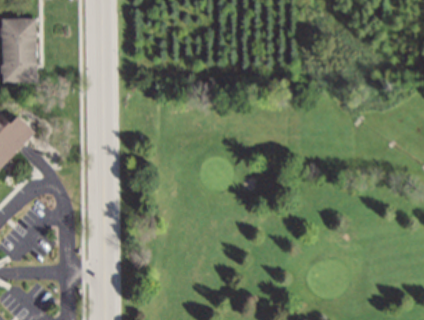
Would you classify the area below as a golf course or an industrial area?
golf course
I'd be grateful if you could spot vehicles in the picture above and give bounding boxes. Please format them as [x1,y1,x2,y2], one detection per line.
[86,268,97,278]
[18,219,28,228]
[34,252,44,262]
[42,290,52,300]
[2,239,13,250]
[34,203,44,215]
[40,240,50,251]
